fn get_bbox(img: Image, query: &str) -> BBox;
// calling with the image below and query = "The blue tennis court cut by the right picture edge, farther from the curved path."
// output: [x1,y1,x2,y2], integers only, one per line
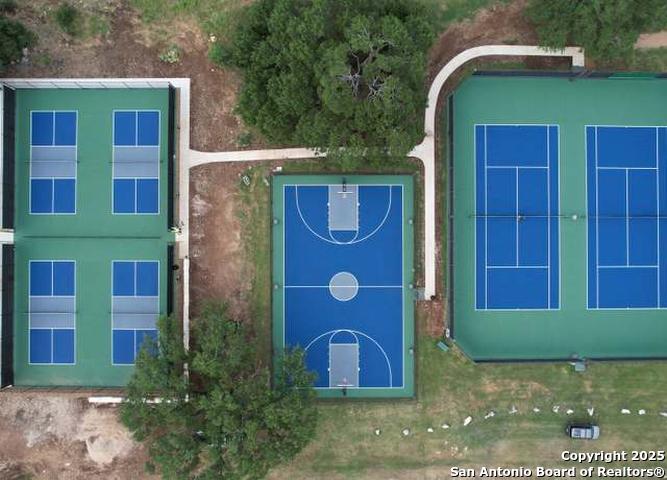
[584,126,667,309]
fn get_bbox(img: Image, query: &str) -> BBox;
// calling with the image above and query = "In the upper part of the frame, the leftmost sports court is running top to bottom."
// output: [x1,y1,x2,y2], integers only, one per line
[29,111,77,214]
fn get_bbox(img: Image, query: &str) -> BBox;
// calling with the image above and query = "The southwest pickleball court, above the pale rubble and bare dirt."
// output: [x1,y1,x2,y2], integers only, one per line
[29,261,76,365]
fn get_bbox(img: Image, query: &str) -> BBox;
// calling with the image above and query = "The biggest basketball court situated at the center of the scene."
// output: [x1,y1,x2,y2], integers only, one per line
[272,174,415,398]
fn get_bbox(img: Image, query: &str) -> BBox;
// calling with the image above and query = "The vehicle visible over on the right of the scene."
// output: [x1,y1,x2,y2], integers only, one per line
[565,422,599,440]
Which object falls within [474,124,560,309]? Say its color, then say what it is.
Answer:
blue tennis court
